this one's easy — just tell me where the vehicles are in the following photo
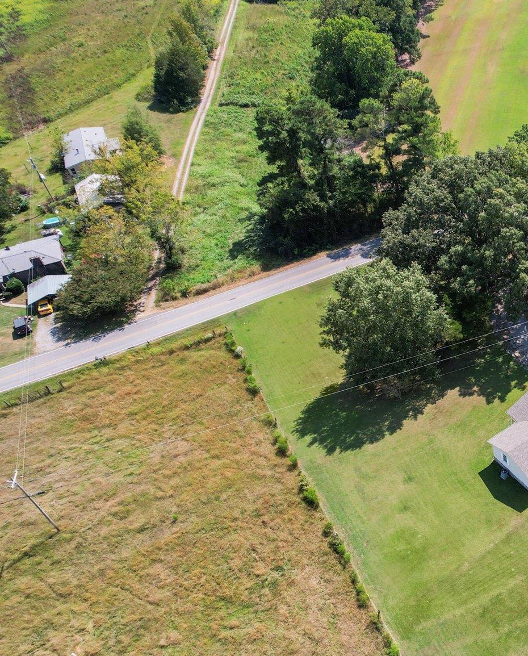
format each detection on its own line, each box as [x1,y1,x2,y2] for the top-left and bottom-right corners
[35,301,52,318]
[11,316,30,333]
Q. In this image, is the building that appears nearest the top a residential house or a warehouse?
residential house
